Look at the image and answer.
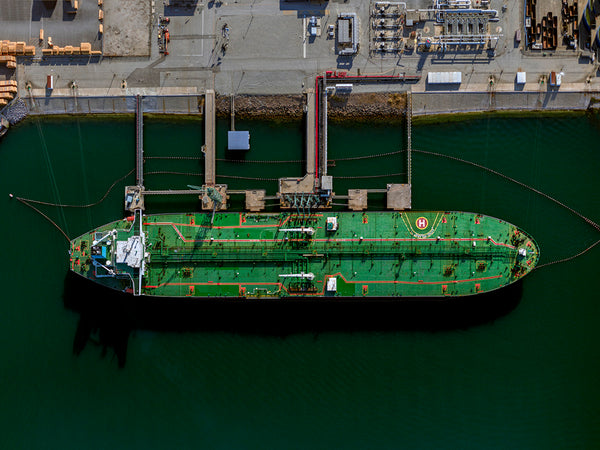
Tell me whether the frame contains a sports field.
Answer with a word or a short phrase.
No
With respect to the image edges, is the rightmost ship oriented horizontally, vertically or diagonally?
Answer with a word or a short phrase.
horizontally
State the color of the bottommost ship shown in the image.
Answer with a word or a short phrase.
green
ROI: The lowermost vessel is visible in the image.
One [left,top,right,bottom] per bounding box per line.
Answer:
[67,209,540,298]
